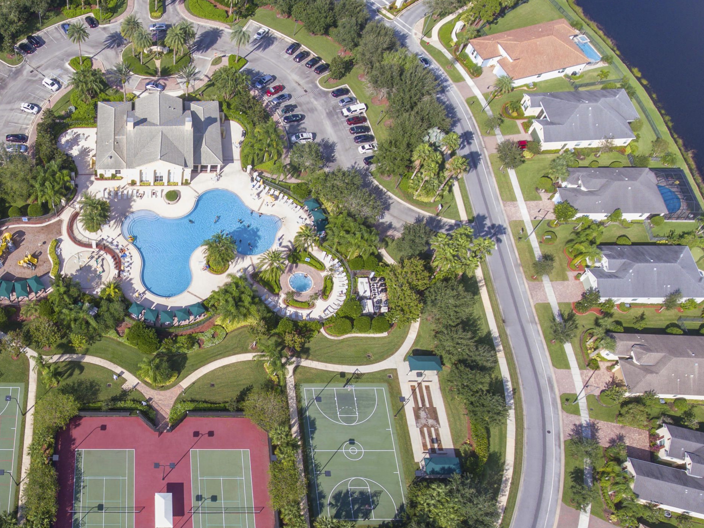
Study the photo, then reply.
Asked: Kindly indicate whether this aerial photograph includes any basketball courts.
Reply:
Yes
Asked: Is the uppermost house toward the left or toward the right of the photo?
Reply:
right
